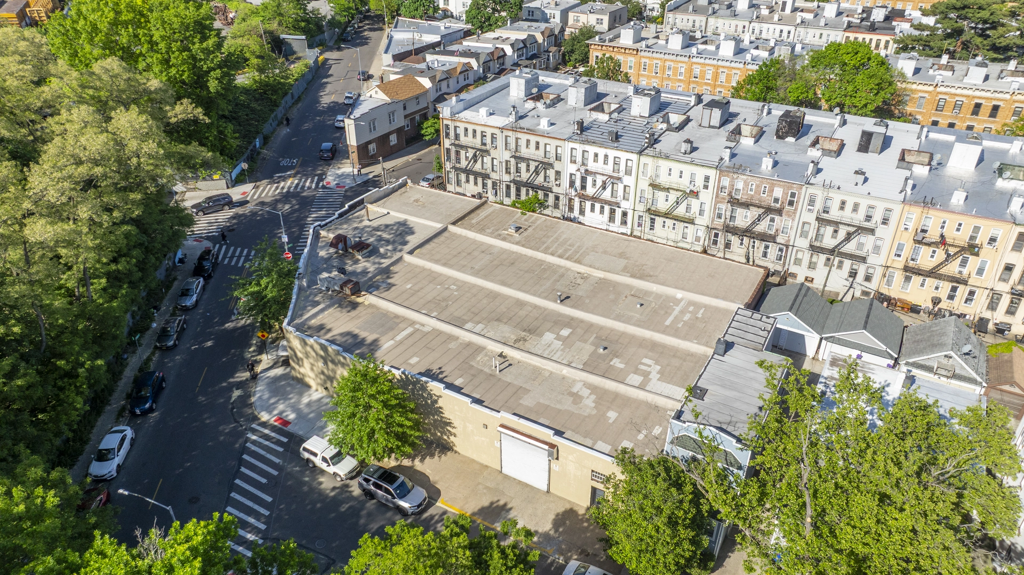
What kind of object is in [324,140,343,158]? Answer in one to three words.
car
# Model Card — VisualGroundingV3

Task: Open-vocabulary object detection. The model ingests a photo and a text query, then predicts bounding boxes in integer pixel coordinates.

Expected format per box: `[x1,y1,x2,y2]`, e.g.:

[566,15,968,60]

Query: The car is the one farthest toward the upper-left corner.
[188,192,234,213]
